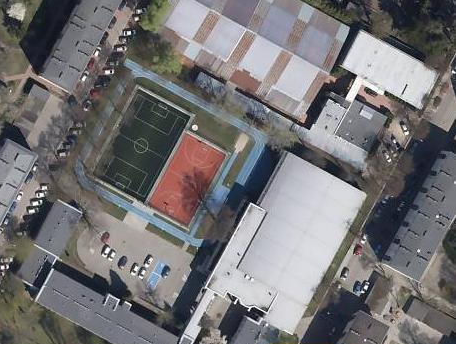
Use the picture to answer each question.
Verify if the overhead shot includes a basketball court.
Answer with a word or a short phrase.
Yes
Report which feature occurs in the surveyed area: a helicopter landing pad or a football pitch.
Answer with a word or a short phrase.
football pitch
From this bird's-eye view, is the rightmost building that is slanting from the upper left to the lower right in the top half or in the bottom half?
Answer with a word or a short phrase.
bottom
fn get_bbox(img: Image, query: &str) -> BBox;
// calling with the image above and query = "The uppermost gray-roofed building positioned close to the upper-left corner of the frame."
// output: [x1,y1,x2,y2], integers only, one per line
[40,0,121,93]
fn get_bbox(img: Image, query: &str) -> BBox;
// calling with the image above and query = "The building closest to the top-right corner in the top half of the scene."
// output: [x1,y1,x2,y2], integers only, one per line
[342,31,439,109]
